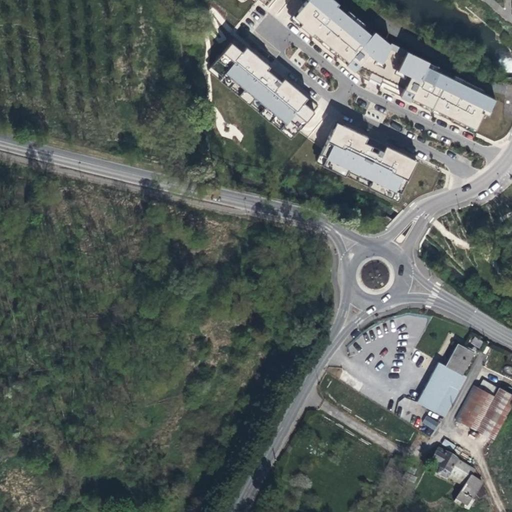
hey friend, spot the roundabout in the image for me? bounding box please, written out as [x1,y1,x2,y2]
[344,237,414,317]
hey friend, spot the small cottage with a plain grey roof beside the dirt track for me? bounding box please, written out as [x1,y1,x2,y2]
[454,474,484,510]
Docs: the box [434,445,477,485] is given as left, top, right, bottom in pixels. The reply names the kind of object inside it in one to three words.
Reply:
house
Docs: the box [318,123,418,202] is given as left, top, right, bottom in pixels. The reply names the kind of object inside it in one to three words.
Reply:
building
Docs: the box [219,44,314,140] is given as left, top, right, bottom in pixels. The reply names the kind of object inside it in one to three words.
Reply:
building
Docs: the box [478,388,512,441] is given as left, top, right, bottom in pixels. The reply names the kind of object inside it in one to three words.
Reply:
barn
